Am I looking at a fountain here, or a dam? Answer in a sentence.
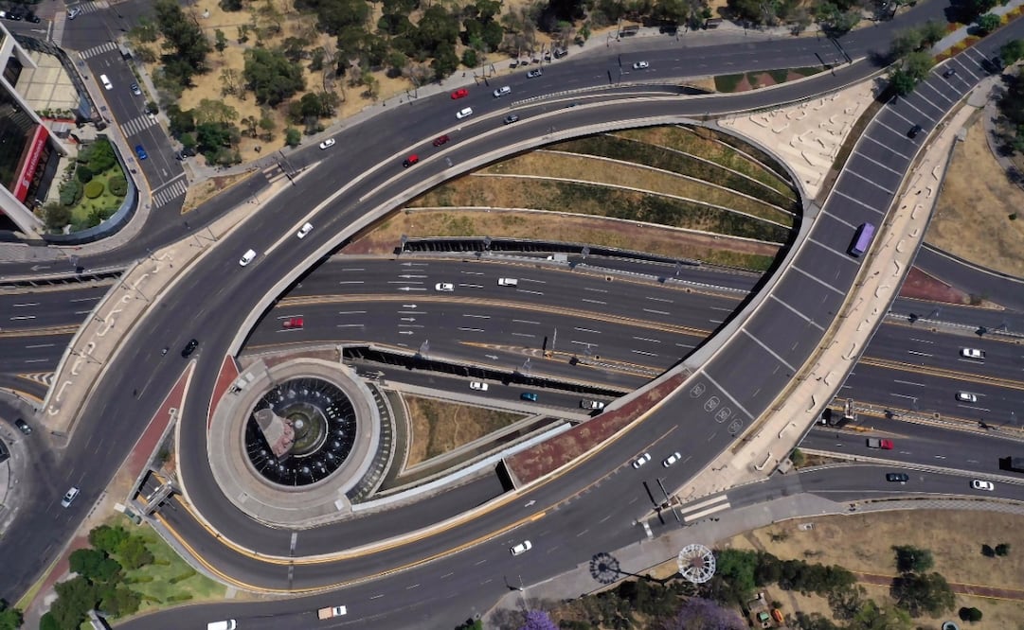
Looking from above, you can make out a fountain.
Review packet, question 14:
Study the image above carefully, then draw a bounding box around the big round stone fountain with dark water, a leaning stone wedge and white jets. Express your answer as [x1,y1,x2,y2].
[206,357,379,527]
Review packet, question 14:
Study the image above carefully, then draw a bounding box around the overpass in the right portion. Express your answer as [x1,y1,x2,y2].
[516,48,991,489]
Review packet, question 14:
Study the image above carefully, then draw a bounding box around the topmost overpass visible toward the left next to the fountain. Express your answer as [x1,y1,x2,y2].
[90,206,393,390]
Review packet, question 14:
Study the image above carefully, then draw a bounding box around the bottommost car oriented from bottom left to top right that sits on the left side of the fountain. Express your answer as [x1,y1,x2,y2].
[60,485,80,508]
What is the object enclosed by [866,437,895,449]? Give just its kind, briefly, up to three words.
vehicle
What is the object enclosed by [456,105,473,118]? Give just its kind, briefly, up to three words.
vehicle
